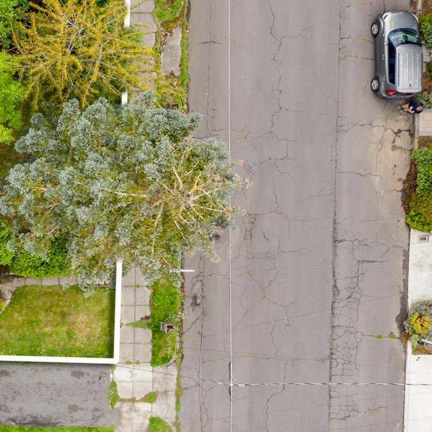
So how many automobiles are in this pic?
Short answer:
1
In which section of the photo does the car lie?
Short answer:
top right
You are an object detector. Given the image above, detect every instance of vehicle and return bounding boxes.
[369,12,426,101]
